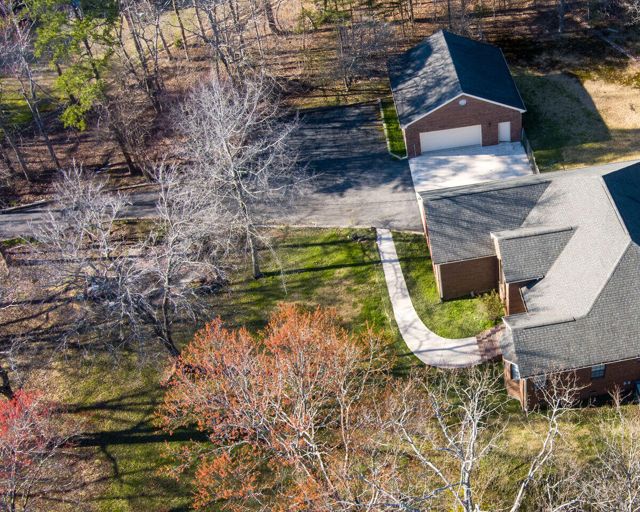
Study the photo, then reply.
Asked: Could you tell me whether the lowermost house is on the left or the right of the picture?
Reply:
right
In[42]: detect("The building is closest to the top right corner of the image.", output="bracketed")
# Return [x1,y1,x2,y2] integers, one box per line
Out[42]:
[384,29,528,158]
